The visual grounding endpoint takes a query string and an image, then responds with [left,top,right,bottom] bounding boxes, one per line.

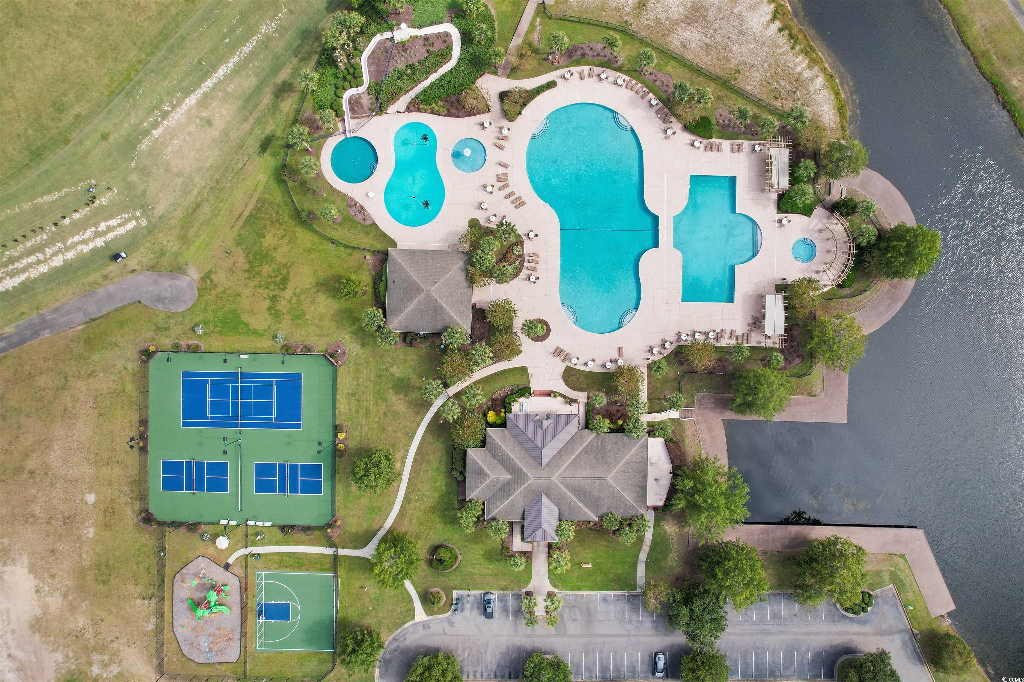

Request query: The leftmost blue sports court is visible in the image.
[161,459,229,495]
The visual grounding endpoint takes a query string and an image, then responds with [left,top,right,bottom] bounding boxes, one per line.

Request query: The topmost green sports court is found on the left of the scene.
[148,352,337,526]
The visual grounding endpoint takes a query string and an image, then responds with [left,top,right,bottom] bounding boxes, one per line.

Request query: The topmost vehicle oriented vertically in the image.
[482,594,495,621]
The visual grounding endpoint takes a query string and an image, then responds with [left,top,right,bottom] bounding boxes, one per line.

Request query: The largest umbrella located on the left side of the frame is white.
[216,536,230,549]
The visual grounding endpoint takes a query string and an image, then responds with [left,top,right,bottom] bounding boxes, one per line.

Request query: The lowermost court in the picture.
[254,571,336,652]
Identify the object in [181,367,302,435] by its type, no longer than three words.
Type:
tennis court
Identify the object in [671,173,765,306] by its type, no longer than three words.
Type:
swimming pool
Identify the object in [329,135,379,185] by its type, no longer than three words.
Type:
swimming pool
